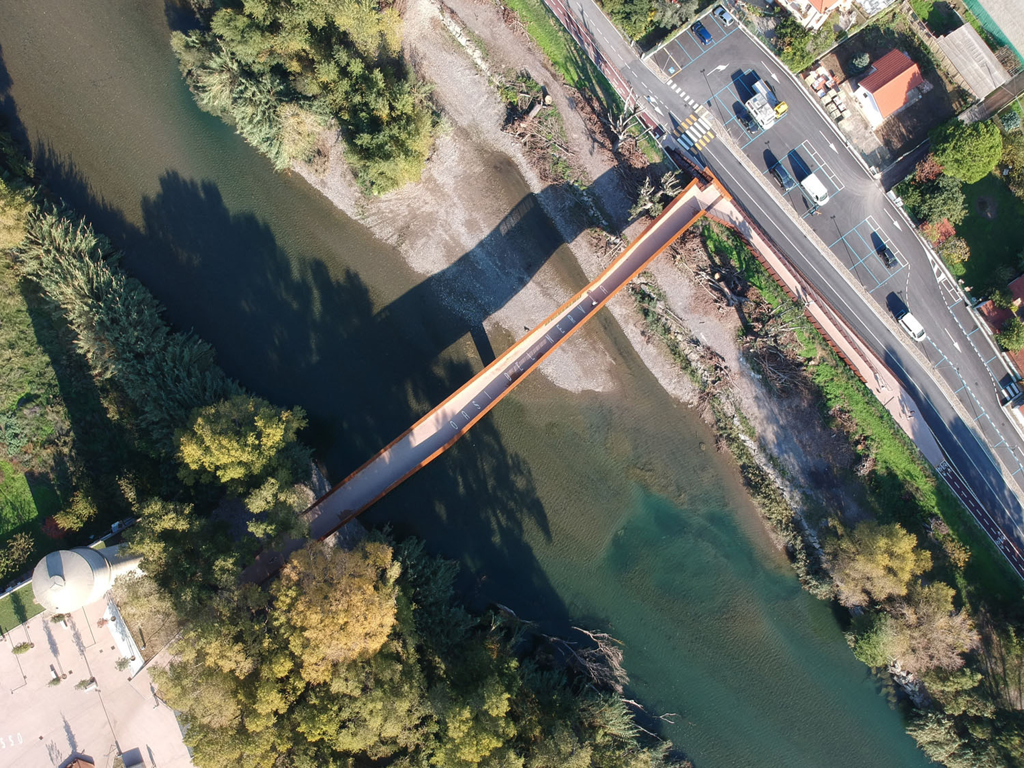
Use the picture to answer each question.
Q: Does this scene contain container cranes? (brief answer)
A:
No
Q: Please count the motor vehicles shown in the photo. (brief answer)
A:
nine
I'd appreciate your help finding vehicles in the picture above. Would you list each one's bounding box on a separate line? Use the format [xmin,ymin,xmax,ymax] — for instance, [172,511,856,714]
[690,20,713,45]
[713,4,734,28]
[736,110,758,135]
[877,248,899,270]
[898,314,926,342]
[800,174,829,207]
[744,94,776,133]
[770,165,794,191]
[756,78,790,116]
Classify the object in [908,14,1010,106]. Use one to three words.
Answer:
shed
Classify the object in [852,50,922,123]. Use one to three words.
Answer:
house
